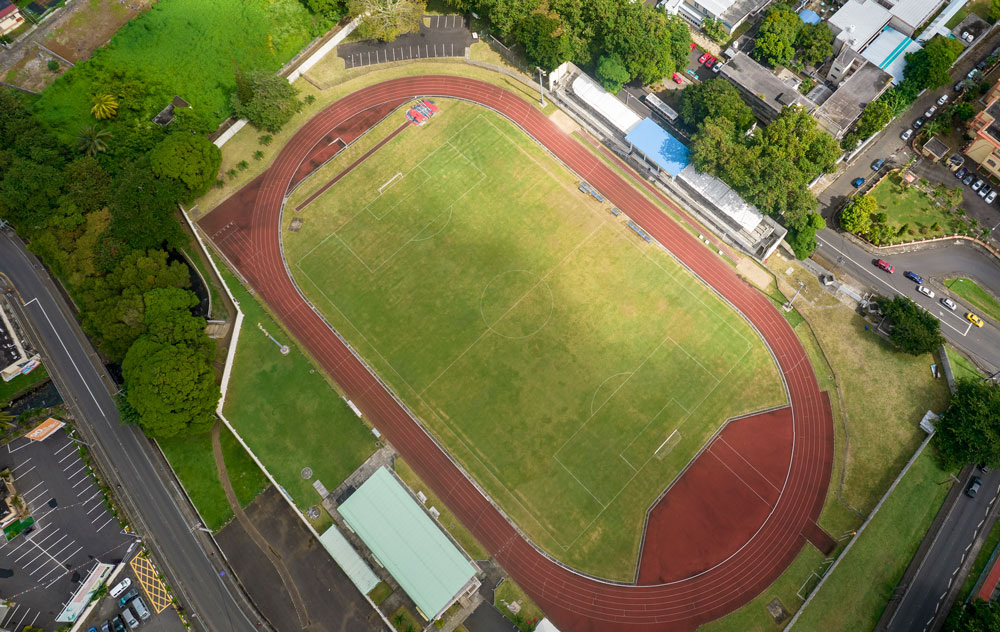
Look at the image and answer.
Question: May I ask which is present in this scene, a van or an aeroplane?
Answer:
van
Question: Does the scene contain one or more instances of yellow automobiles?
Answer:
Yes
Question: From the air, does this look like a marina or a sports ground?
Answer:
sports ground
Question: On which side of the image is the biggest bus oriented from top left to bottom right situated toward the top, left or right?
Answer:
right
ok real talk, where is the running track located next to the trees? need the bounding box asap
[196,71,841,632]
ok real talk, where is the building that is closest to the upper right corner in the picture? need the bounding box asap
[952,13,991,54]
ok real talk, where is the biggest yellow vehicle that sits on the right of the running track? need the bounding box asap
[965,312,983,328]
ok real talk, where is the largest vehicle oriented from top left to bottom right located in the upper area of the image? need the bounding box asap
[645,96,679,130]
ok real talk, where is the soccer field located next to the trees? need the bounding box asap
[277,95,787,586]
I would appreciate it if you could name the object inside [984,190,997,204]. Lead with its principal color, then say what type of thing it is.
white vehicle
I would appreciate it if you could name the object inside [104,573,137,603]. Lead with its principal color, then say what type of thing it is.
white van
